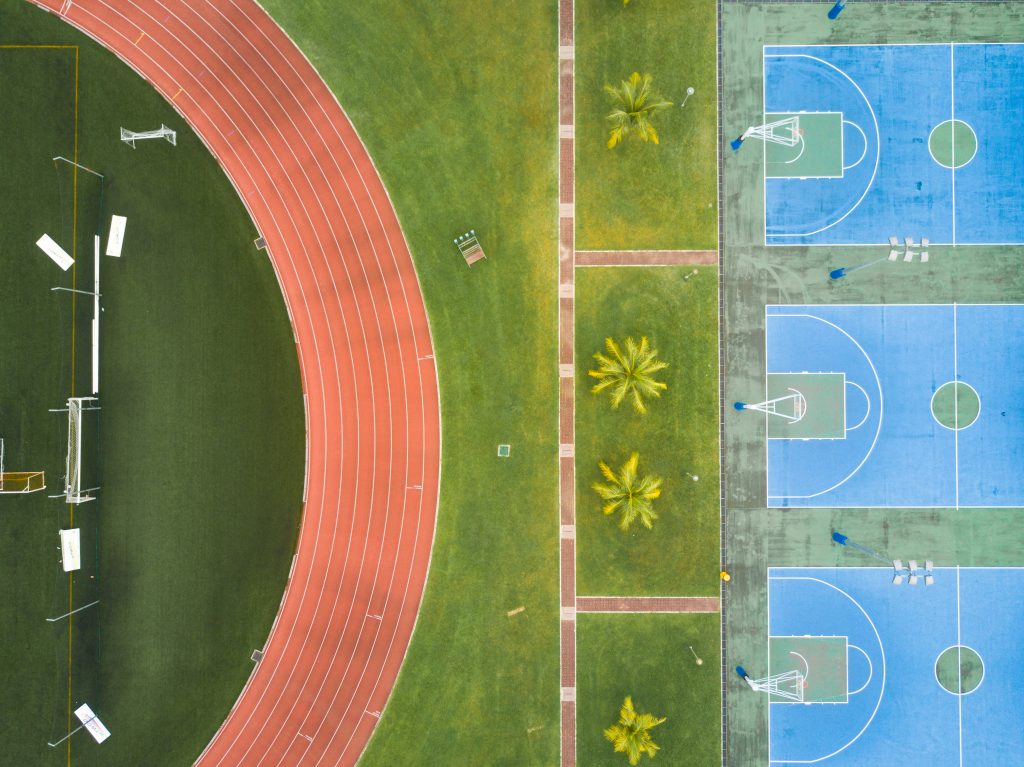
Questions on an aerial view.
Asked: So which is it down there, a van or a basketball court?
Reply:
basketball court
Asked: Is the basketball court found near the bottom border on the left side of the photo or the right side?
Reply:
right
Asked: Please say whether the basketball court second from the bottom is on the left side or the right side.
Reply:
right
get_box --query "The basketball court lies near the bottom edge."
[768,566,1024,767]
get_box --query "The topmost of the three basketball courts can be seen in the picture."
[763,42,1024,247]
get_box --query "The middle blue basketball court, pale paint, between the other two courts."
[766,302,1024,509]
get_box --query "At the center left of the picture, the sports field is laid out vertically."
[0,0,306,767]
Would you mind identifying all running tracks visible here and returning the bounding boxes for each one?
[25,0,441,767]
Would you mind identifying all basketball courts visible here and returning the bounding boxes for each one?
[768,566,1024,767]
[763,42,1024,247]
[766,302,1024,509]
